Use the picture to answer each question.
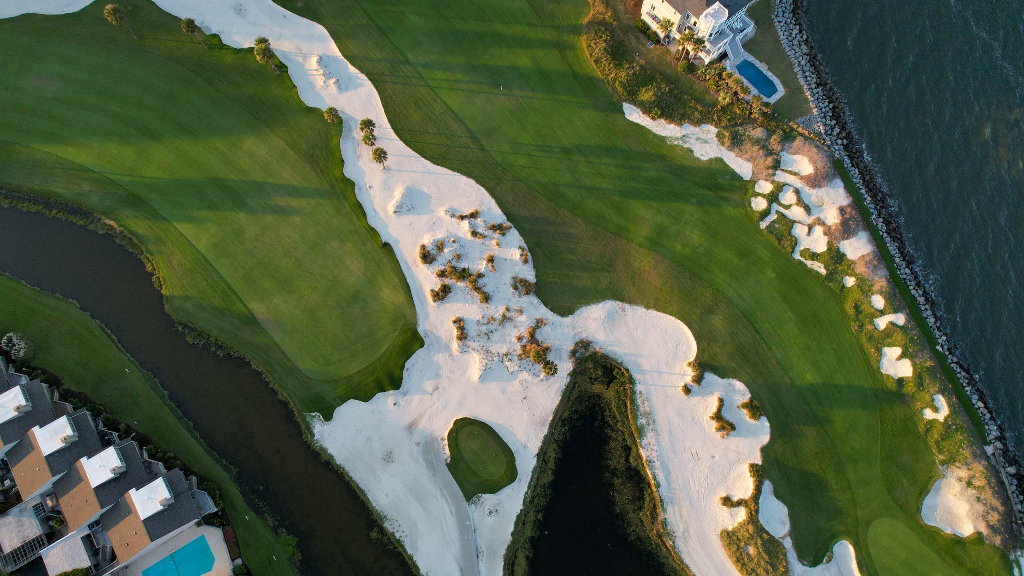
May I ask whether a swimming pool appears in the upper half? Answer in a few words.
Yes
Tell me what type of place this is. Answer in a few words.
golf course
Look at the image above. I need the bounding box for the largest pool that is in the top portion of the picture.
[722,50,784,102]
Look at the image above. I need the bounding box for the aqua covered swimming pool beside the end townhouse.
[119,527,237,576]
